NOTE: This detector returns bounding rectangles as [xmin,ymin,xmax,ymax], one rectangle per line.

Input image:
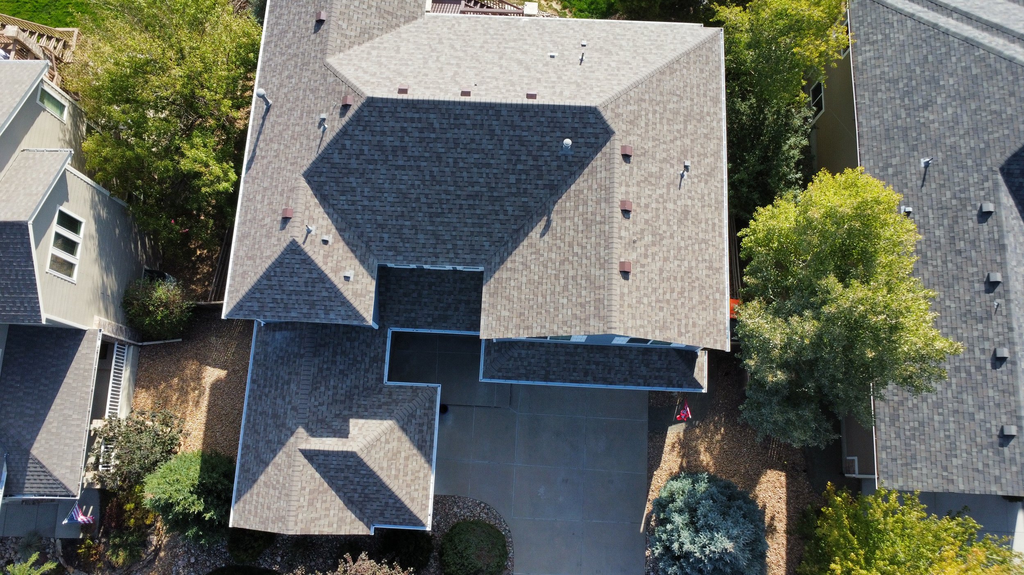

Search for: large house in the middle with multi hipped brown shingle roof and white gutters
[220,0,731,535]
